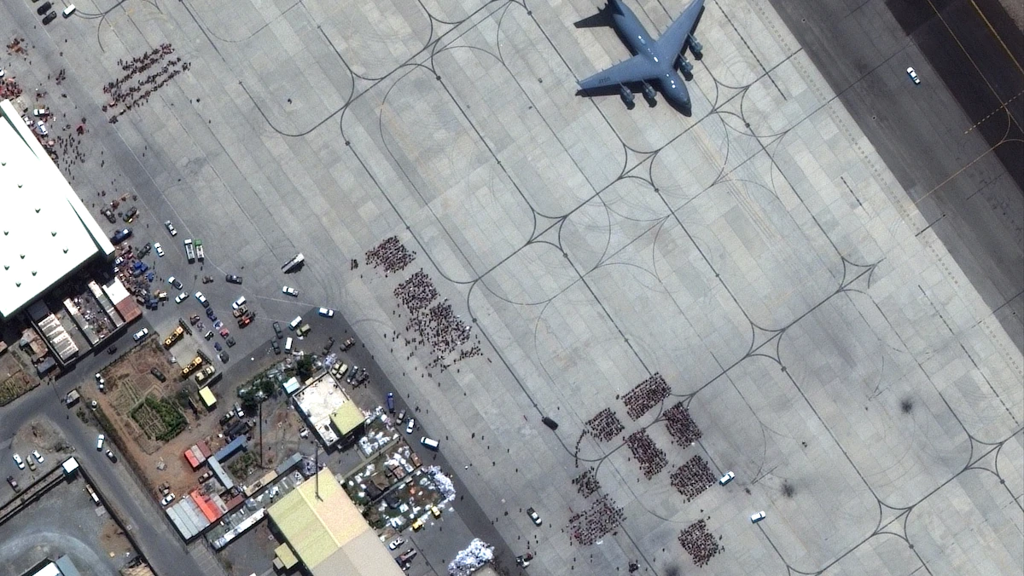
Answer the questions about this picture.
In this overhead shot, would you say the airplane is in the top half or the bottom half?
top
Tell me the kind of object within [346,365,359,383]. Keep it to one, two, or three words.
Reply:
vehicle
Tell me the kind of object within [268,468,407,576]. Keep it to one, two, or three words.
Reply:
building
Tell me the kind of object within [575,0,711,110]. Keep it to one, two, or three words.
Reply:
airplane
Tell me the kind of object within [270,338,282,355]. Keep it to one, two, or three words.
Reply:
vehicle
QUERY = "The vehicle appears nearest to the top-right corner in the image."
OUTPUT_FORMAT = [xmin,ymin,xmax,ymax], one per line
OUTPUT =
[907,67,921,84]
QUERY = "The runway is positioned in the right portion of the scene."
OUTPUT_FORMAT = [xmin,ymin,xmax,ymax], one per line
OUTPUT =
[889,0,1024,192]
